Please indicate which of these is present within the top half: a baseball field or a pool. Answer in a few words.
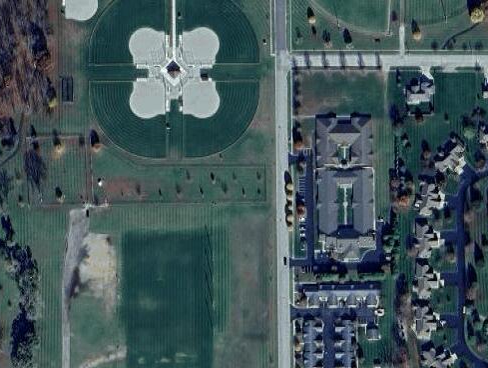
baseball field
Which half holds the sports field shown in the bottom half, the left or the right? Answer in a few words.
left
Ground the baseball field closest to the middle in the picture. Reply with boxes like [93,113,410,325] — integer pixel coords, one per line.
[182,81,259,158]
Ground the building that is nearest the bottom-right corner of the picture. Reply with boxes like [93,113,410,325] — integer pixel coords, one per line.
[423,348,457,368]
